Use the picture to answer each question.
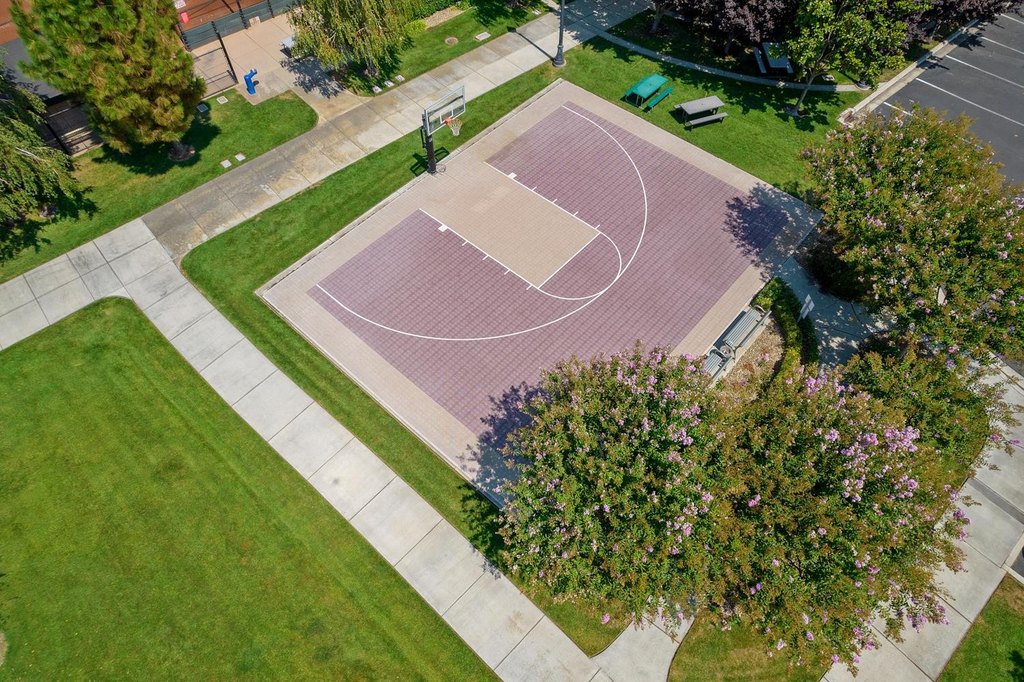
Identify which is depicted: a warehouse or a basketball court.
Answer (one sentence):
This aerial view contains a basketball court.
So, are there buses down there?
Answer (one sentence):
No, no bus can be seen from above.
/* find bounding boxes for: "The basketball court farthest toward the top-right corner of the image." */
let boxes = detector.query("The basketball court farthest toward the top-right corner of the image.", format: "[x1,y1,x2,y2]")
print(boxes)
[255,78,824,539]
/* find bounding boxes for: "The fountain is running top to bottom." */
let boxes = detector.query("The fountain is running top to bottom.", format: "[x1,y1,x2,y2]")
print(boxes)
[243,66,257,97]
